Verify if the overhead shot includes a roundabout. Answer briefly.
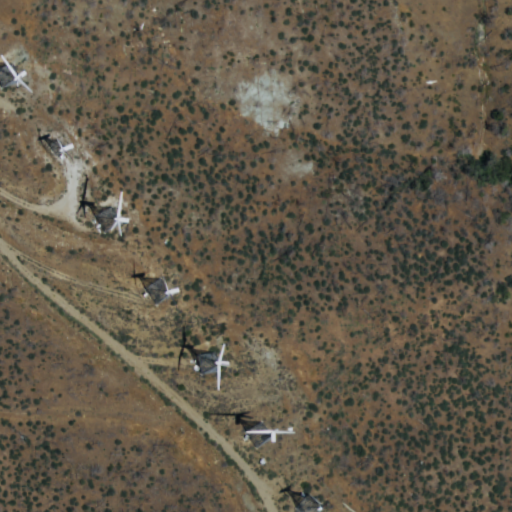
No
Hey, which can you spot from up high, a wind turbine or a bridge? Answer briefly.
wind turbine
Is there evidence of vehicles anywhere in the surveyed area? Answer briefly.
No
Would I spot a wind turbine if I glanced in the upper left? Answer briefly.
Yes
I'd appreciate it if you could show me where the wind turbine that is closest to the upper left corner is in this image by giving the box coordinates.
[0,54,26,90]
